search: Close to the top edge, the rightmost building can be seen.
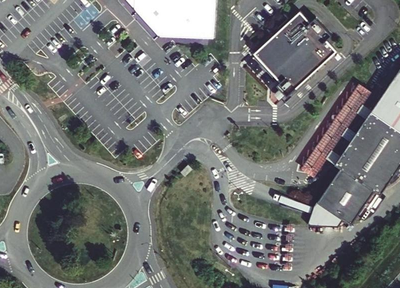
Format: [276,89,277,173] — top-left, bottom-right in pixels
[242,12,336,100]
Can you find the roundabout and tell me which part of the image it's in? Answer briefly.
bottom left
